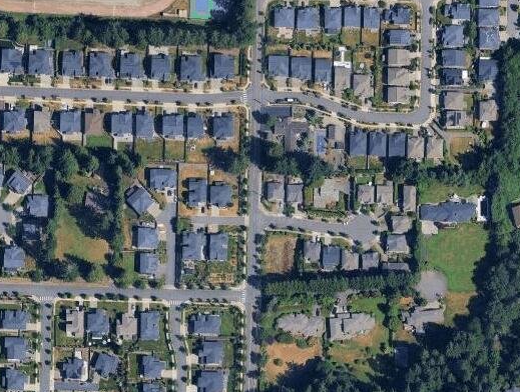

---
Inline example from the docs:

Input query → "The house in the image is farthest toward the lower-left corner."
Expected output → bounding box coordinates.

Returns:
[4,369,25,392]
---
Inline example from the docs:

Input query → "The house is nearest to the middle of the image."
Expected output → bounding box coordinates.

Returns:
[266,182,283,203]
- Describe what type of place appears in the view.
residential area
